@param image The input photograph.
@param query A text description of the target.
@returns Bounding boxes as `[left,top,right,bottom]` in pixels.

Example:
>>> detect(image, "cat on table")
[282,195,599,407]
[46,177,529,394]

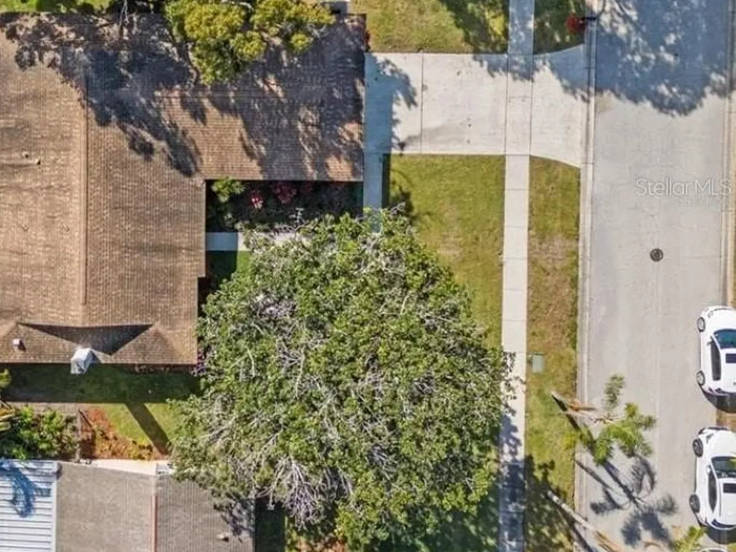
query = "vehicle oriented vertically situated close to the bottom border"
[690,425,736,526]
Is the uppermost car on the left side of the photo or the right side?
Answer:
right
